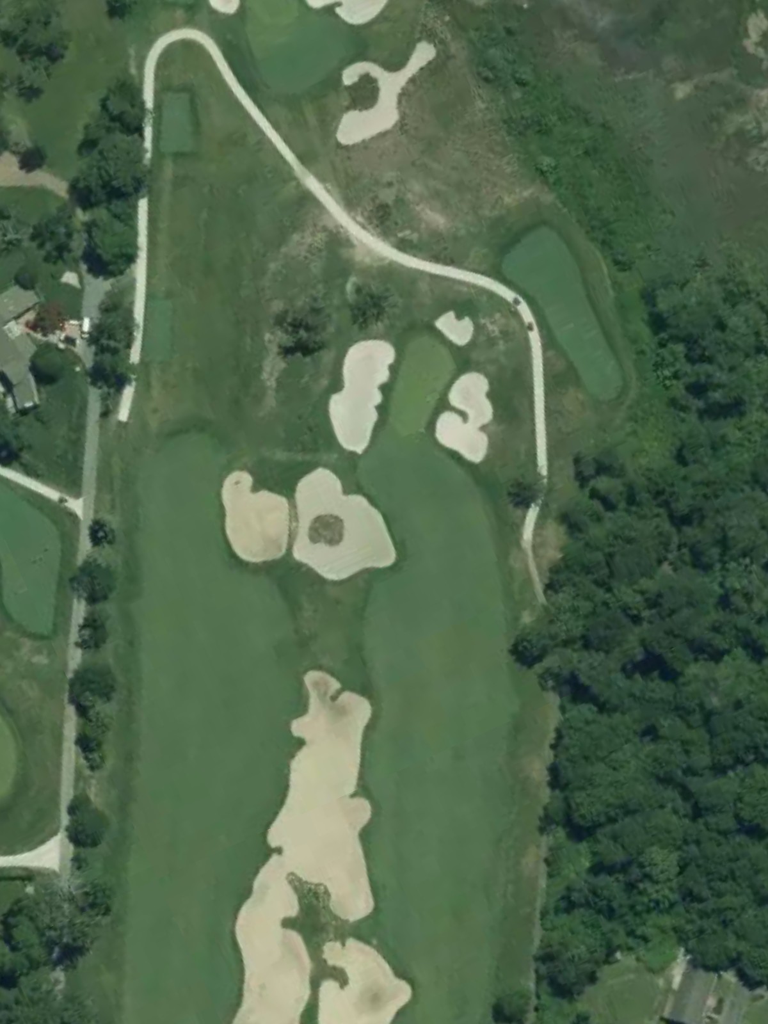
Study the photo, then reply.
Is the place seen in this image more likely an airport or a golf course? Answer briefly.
golf course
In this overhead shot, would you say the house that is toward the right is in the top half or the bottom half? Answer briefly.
bottom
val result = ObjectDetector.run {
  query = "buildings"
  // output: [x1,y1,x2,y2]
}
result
[0,284,41,408]
[669,965,719,1024]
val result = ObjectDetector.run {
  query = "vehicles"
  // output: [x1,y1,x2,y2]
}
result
[64,336,76,344]
[81,315,89,337]
[528,322,533,330]
[58,497,66,504]
[514,297,521,305]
